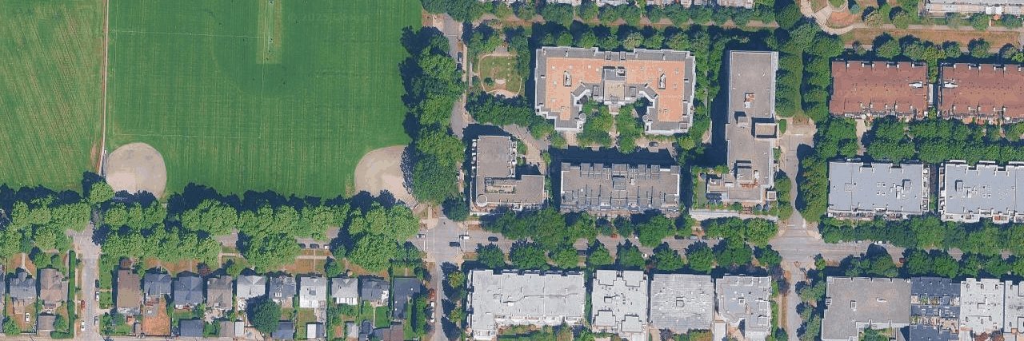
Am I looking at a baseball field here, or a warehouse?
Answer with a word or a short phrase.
baseball field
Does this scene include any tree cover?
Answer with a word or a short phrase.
Yes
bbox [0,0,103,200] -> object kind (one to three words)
sports field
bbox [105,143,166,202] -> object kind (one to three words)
baseball field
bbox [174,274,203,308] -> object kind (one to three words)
house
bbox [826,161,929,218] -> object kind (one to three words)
building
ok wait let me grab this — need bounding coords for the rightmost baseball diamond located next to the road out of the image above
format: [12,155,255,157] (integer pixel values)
[353,144,422,209]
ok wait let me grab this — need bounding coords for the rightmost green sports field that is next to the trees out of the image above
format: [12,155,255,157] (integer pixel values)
[105,0,422,208]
